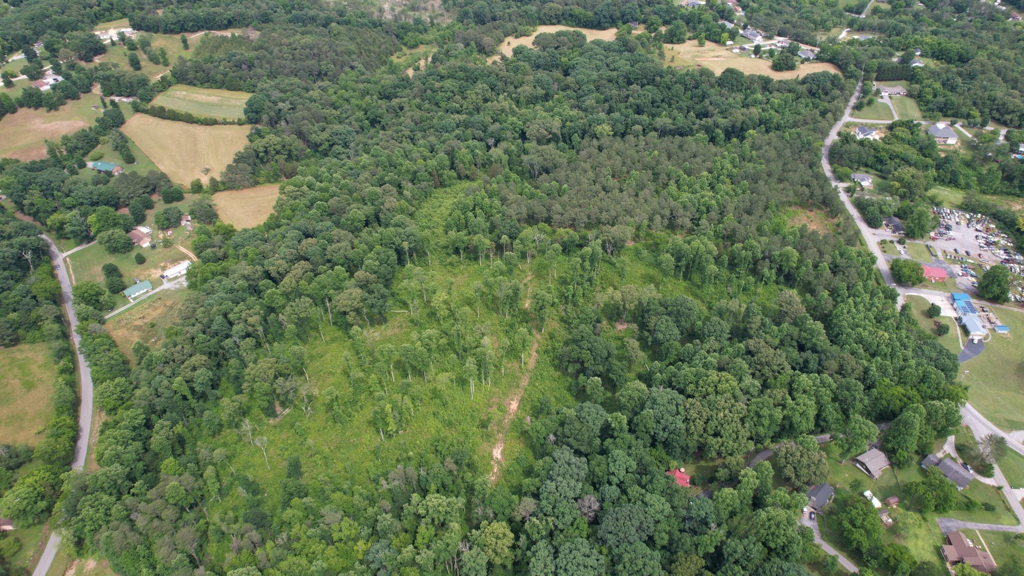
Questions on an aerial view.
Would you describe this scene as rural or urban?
rural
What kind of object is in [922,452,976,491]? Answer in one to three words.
house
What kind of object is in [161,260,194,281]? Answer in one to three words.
building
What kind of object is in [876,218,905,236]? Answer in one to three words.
house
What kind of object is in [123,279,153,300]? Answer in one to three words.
building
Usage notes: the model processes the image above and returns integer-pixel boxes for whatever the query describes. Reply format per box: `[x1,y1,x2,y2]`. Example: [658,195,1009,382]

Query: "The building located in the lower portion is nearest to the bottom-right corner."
[938,530,1000,576]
